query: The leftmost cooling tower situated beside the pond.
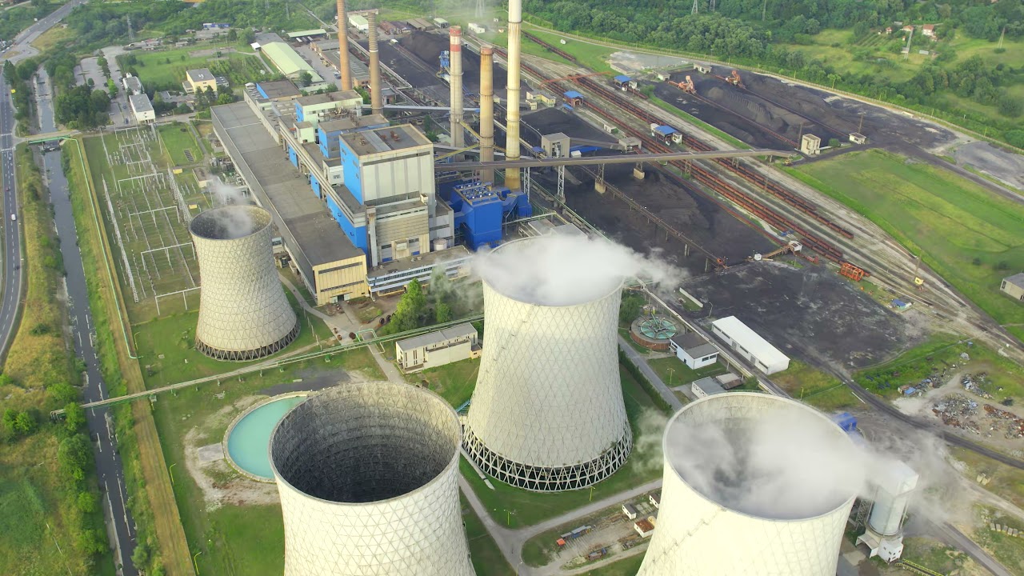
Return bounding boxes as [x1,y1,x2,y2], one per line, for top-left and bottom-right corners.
[188,201,304,364]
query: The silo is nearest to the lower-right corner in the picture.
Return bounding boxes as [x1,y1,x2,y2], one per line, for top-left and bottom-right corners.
[847,445,932,559]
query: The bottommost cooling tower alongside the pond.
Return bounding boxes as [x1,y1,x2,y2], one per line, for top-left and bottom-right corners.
[266,377,478,576]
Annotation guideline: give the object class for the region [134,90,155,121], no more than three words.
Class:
building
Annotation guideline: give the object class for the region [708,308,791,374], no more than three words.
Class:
shed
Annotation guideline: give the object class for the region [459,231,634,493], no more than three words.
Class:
cooling tower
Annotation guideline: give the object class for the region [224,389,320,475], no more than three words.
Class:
pond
